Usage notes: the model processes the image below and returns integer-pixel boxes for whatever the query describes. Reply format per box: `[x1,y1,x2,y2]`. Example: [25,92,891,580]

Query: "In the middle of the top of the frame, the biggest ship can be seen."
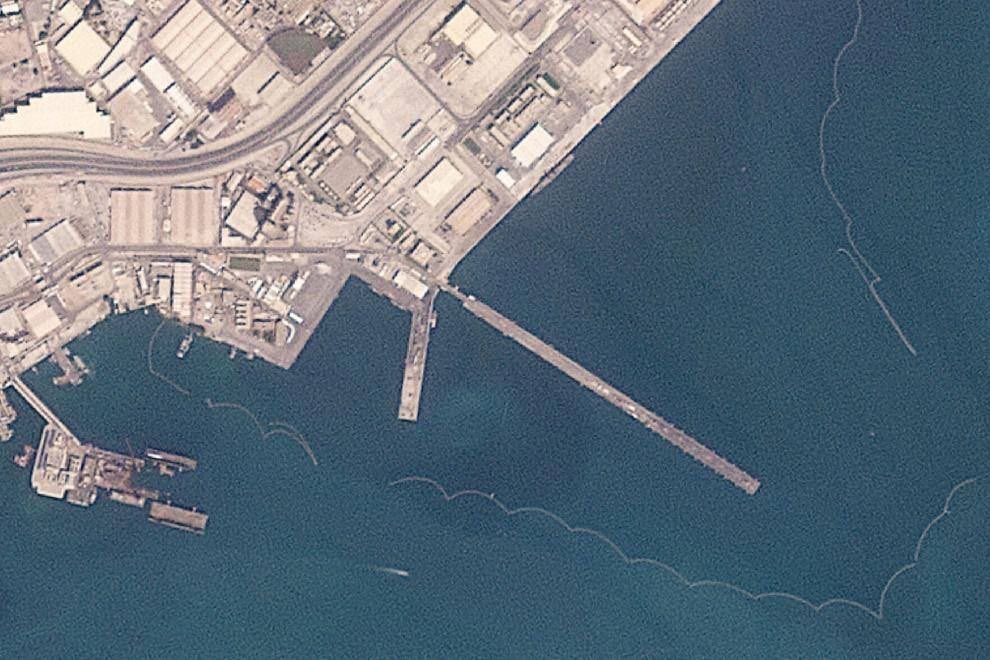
[533,156,574,196]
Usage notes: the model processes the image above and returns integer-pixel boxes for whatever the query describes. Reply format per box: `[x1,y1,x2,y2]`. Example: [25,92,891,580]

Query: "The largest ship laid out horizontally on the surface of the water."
[109,492,145,506]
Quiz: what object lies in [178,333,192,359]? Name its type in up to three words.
ship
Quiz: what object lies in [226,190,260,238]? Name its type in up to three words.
building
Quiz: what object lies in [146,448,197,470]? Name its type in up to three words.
pier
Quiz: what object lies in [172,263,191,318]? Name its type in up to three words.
building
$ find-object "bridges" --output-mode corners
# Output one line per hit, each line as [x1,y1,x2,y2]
[9,375,79,445]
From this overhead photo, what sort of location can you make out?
port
